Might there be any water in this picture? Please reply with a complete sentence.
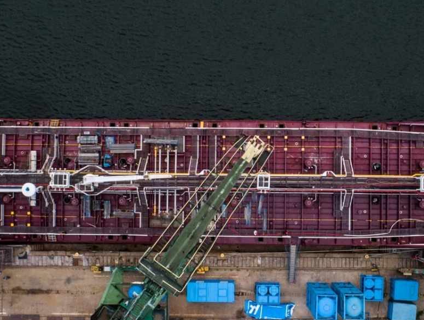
Yes, there is water in the image.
